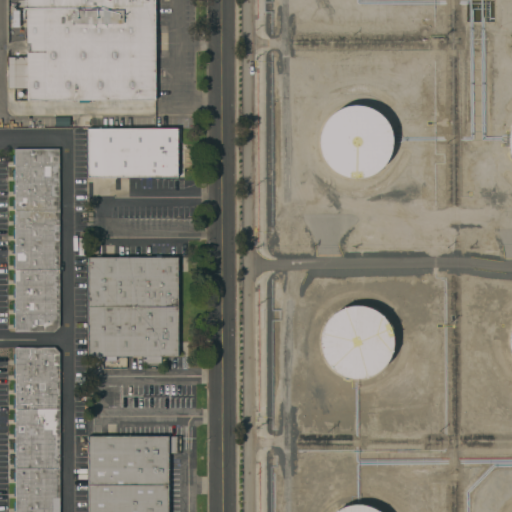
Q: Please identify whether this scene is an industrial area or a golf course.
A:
industrial area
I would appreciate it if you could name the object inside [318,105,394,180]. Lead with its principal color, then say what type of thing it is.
white storage tank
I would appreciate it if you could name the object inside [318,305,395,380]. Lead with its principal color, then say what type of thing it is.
white storage tank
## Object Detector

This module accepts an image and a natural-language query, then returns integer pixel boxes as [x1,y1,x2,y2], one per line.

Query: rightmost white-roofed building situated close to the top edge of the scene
[26,0,157,103]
